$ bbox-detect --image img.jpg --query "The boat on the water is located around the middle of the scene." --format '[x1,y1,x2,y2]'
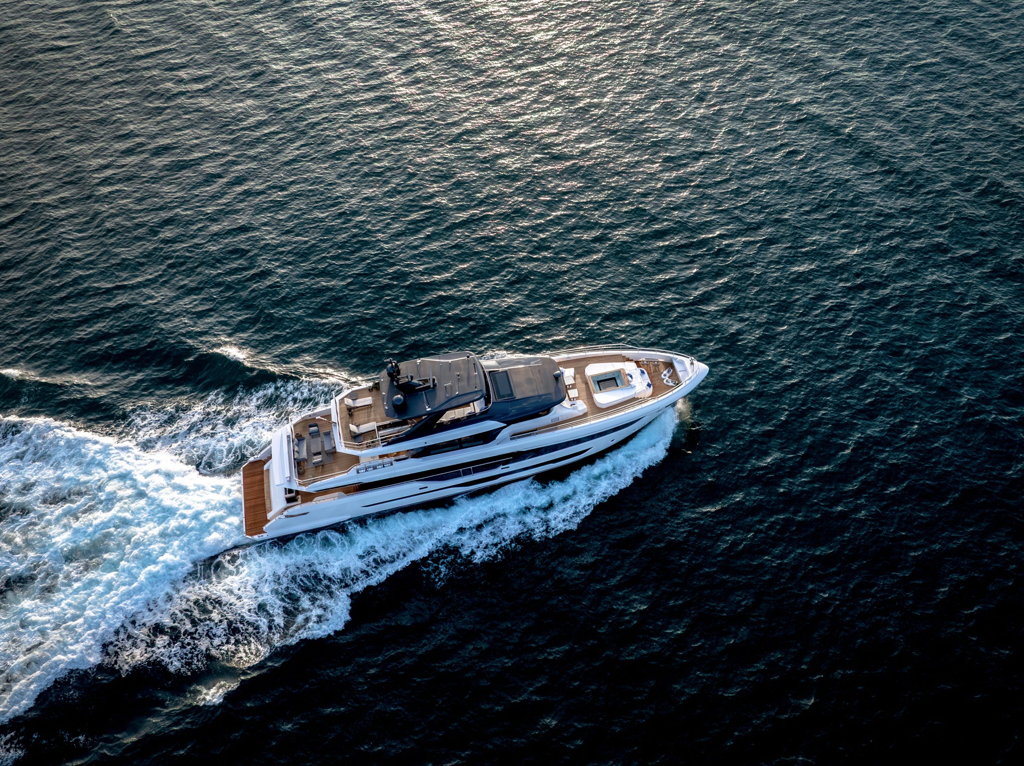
[241,333,708,541]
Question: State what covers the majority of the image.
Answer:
water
